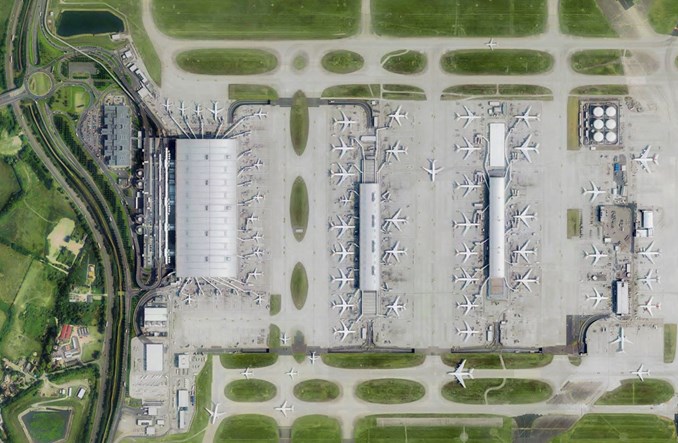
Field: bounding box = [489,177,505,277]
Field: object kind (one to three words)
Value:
building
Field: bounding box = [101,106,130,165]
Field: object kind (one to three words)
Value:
building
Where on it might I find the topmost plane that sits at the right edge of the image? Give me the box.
[633,145,661,173]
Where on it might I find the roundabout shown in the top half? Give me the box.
[24,70,55,101]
